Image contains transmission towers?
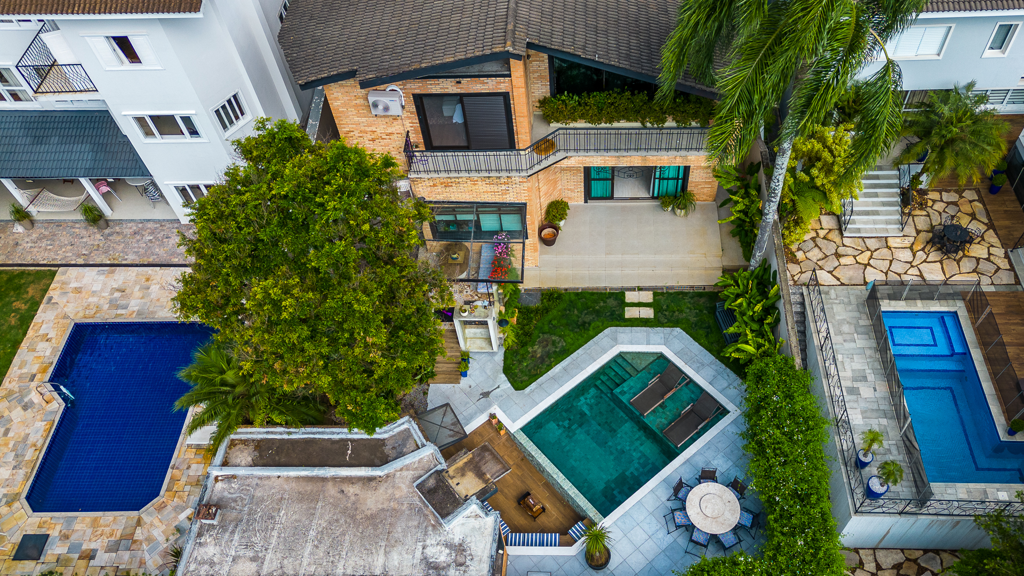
No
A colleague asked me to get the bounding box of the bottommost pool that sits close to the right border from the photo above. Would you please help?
[882,312,1024,483]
